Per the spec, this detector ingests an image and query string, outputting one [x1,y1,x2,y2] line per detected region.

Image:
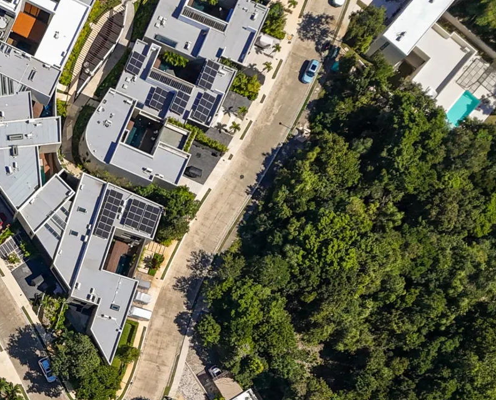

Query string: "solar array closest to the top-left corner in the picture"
[125,52,145,75]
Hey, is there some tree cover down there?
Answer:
Yes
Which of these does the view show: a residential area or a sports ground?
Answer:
residential area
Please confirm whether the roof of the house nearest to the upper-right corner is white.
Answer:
Yes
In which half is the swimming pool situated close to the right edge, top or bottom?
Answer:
top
